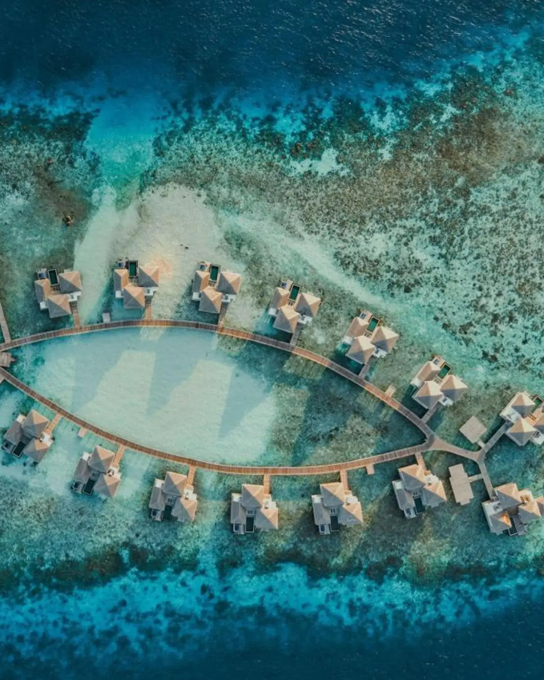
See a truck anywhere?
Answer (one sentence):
No, I find no truck anywhere in the image.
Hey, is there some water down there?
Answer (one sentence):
Yes, water can be seen from above here.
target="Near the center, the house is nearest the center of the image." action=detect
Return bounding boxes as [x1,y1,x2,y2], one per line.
[265,281,320,333]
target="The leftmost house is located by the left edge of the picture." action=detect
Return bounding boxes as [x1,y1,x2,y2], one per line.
[5,406,56,463]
